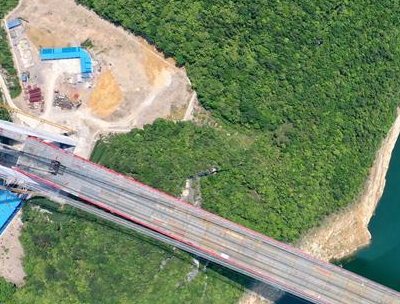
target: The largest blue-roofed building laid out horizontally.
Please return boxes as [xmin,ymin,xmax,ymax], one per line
[41,47,95,74]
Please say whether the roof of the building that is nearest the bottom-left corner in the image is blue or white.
blue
